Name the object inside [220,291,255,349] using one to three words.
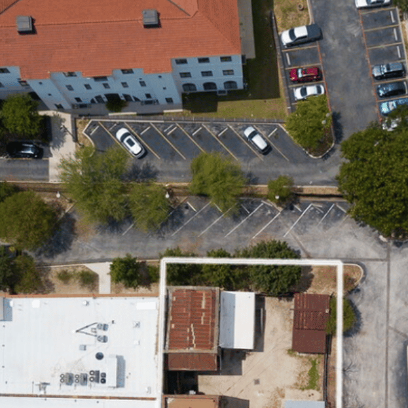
shed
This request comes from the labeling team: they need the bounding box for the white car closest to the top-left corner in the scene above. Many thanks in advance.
[115,127,146,160]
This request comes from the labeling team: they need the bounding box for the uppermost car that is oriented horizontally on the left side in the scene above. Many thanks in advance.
[7,142,44,158]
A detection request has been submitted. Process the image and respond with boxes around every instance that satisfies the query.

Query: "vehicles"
[289,65,322,84]
[355,0,390,9]
[293,83,326,101]
[242,126,271,156]
[280,26,322,47]
[115,127,146,160]
[378,97,408,116]
[374,80,408,97]
[7,142,44,158]
[370,62,406,81]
